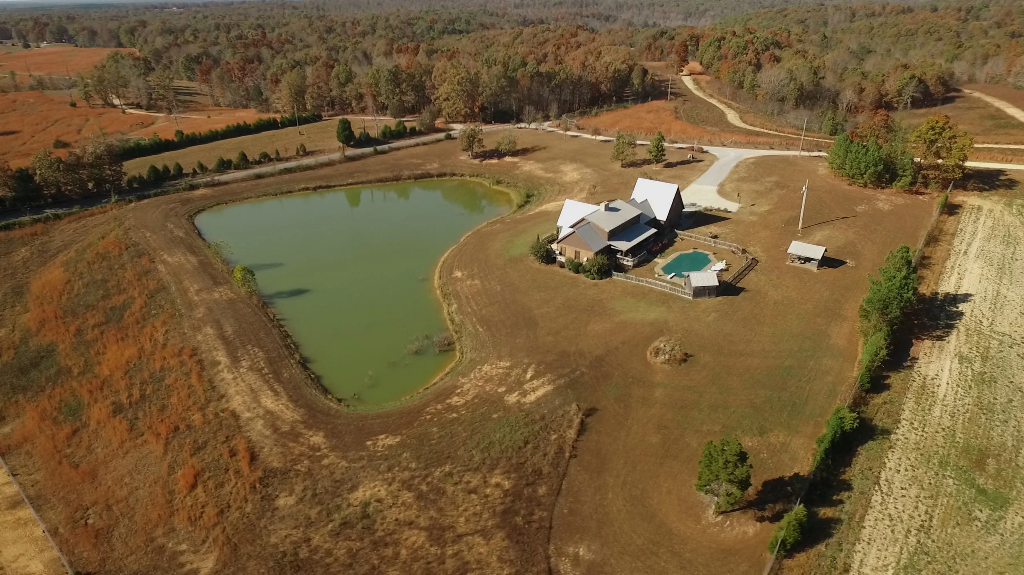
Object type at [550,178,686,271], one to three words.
house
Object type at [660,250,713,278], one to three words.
swimming pool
